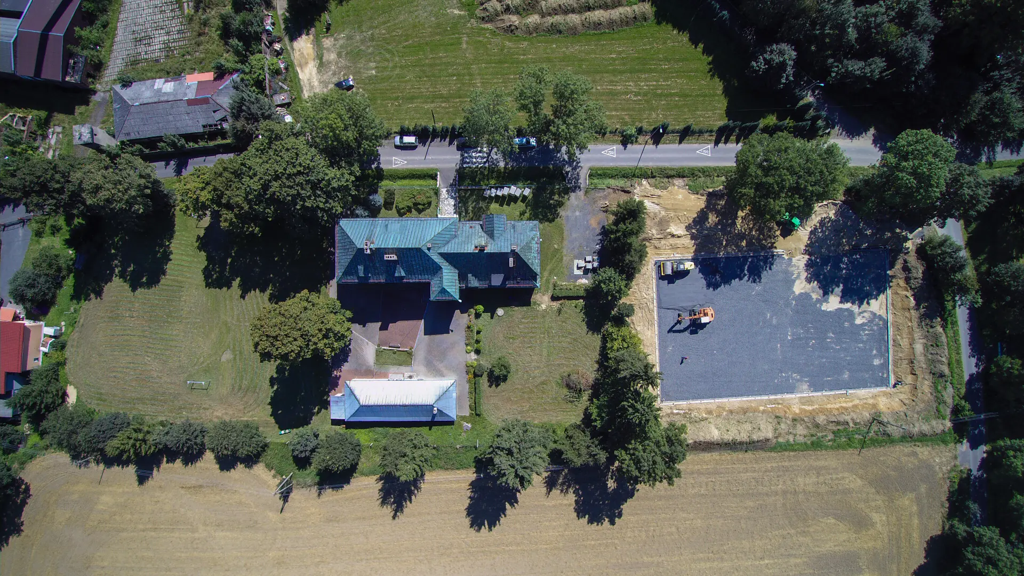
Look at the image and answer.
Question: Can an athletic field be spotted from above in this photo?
Yes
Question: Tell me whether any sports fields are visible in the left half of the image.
Yes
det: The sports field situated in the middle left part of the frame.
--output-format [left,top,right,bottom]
[66,193,340,428]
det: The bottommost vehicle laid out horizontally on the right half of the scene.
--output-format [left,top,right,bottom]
[677,310,715,326]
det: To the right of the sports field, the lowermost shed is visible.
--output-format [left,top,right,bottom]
[331,372,457,422]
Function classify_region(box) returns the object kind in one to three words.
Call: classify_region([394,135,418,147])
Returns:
vehicle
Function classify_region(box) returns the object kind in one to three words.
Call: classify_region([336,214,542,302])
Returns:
building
